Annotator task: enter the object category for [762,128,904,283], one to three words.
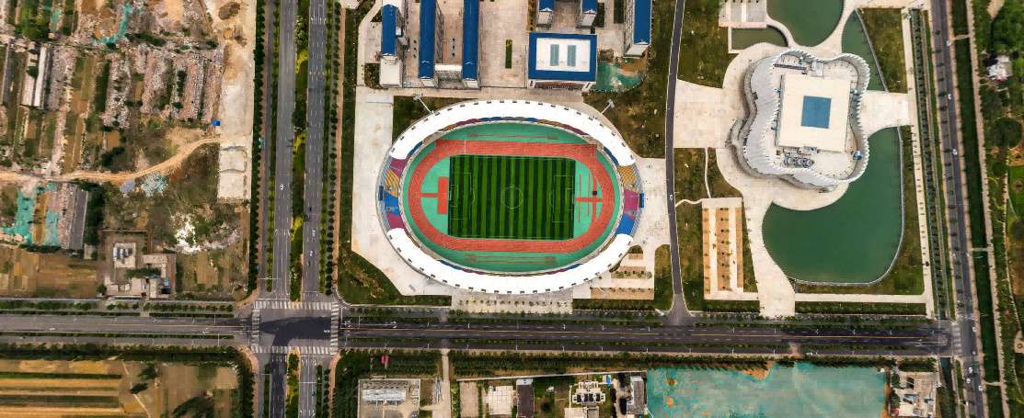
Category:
pond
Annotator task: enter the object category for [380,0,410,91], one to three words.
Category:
building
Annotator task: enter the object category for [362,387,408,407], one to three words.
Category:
building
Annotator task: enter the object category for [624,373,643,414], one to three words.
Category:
house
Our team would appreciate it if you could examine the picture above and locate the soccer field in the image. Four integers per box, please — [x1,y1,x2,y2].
[448,156,575,238]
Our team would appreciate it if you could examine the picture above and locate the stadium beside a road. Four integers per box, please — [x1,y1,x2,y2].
[378,99,645,294]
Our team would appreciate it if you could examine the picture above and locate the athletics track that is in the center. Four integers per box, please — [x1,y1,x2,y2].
[403,122,620,271]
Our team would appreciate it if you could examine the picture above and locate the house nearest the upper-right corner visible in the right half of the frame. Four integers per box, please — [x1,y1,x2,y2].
[982,56,1012,82]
